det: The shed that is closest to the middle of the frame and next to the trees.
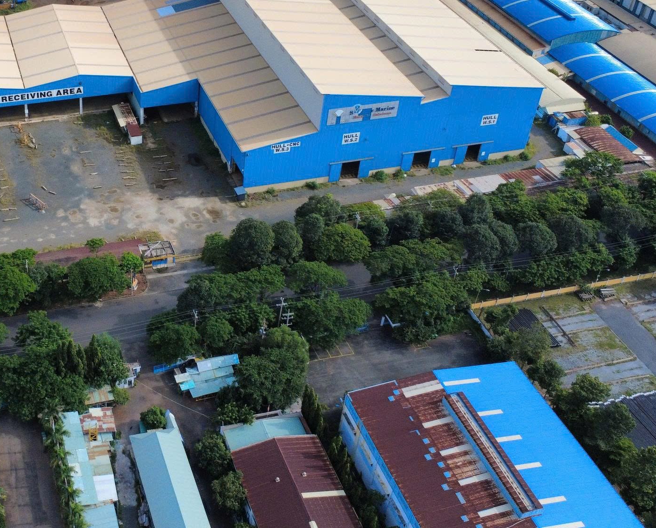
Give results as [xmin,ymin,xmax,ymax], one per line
[373,196,401,216]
